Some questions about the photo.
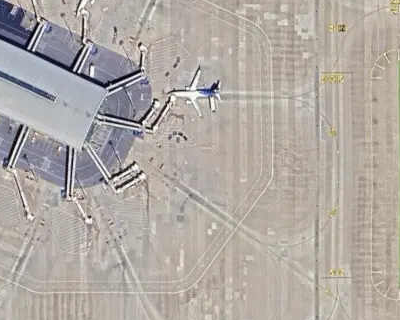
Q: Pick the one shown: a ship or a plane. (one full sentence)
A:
Of the two, only a plane appears.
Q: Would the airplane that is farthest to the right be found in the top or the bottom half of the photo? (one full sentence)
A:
You can find the airplane that is farthest to the right in the top half.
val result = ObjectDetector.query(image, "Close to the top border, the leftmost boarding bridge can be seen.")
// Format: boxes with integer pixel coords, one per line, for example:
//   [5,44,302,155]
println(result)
[26,0,51,53]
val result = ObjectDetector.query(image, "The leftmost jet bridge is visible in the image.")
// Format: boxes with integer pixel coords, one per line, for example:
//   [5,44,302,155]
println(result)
[2,125,34,220]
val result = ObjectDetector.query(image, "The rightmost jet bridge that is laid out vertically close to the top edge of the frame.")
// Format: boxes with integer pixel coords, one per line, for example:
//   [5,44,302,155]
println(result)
[73,9,97,75]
